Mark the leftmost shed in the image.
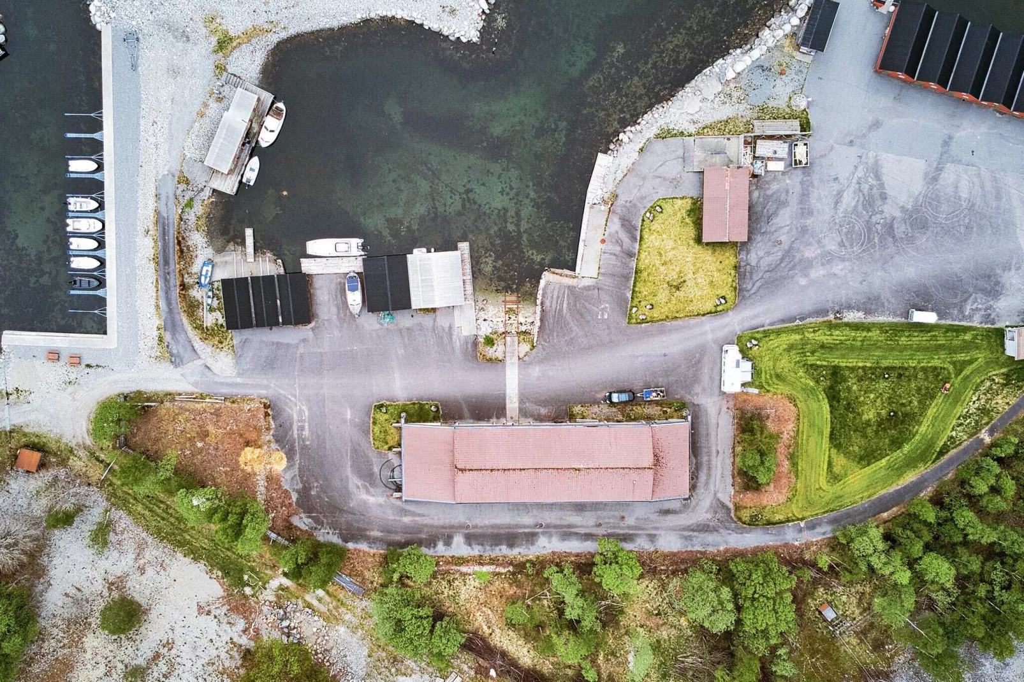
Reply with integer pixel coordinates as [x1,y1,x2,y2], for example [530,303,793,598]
[16,448,49,473]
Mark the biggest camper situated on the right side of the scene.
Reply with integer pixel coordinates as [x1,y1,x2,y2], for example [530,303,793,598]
[720,342,754,391]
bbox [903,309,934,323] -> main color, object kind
white camper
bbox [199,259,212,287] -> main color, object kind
white boat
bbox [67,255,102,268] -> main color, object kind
white boat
